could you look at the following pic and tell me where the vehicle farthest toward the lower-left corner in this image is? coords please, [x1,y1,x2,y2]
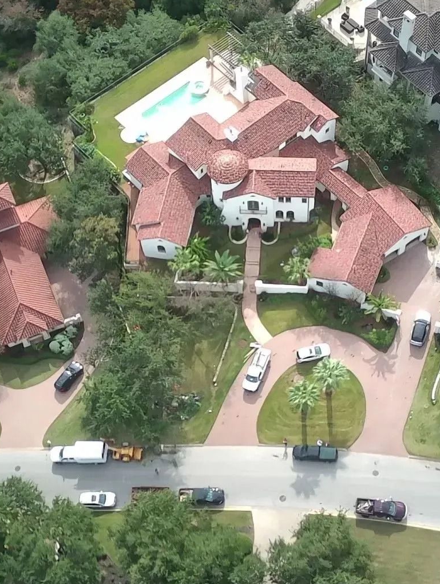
[78,491,117,509]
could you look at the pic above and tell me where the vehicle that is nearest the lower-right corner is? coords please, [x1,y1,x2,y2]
[355,497,408,521]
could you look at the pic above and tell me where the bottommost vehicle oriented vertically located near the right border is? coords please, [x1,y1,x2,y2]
[409,309,431,348]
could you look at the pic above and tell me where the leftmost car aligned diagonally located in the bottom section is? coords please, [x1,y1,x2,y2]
[54,361,84,393]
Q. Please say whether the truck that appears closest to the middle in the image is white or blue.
white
